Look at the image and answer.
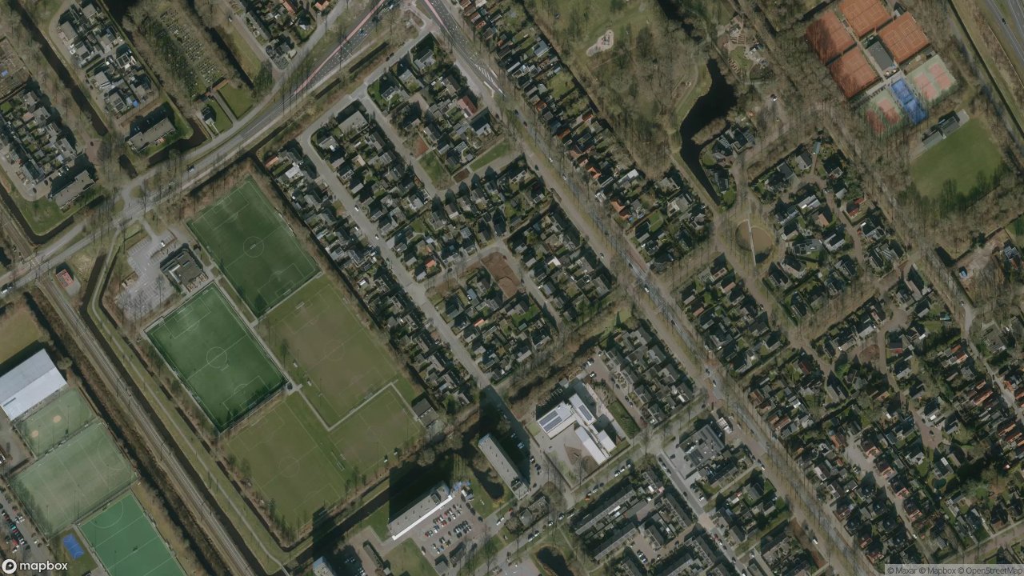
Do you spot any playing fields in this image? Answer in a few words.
Yes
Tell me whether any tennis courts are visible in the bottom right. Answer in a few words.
No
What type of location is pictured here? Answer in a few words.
residential area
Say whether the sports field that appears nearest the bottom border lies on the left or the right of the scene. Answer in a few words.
left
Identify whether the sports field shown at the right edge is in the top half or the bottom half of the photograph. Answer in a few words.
top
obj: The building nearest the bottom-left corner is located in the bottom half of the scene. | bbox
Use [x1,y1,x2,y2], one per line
[0,348,68,421]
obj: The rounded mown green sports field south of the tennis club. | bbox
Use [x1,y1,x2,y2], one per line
[911,124,1002,201]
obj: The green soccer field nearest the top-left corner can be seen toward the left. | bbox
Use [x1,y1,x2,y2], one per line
[189,177,320,318]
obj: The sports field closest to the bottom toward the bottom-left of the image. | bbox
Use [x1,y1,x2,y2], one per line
[80,493,188,576]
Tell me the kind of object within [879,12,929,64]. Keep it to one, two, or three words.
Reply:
tennis court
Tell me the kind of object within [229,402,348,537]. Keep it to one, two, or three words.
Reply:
soccer field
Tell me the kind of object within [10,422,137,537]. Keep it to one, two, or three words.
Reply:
sports field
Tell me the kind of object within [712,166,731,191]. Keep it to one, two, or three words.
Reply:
house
